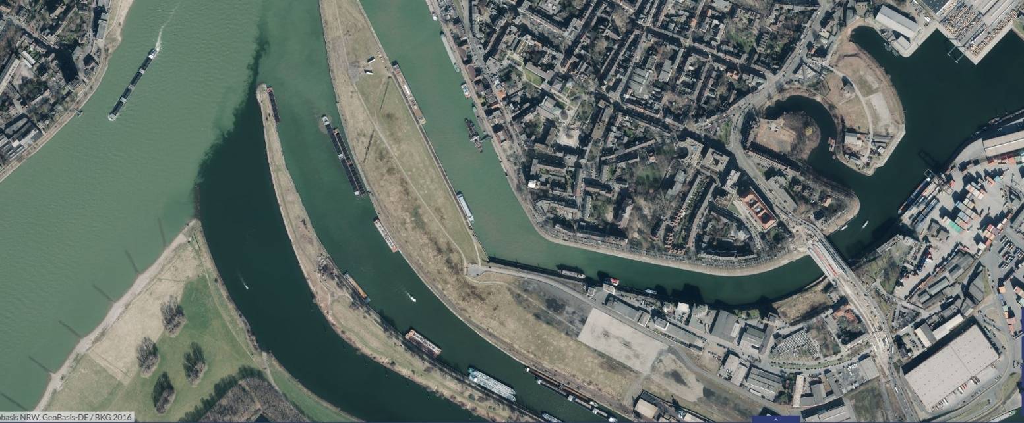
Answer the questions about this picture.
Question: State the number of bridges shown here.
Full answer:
My tally gives 1 bridge in this photo.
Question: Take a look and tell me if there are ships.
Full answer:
Yes, this view includes a ship.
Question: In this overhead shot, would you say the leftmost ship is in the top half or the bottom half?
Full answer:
The leftmost ship sits in the top half of the picture.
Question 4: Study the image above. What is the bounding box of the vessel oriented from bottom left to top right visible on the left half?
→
[111,50,159,120]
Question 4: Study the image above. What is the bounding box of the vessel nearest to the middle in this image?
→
[456,191,473,222]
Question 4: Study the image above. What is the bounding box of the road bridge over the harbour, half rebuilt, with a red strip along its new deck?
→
[808,236,857,284]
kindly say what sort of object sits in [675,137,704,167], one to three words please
building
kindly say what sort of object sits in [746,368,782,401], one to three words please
building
